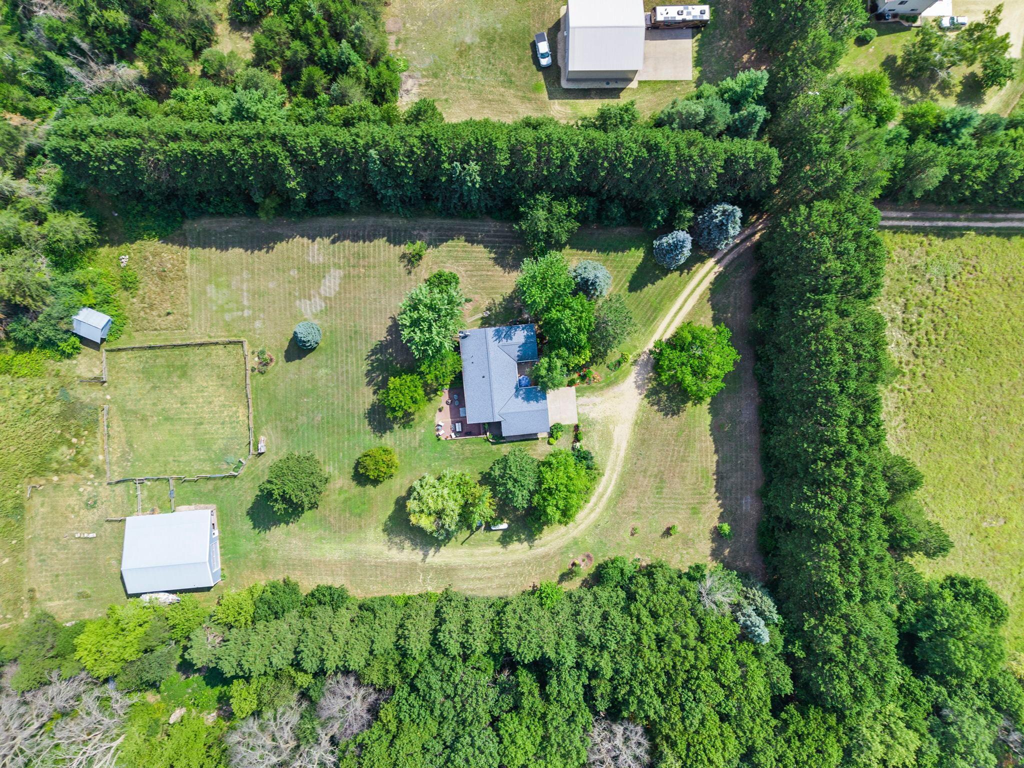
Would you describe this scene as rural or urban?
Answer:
rural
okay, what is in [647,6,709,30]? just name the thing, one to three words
camper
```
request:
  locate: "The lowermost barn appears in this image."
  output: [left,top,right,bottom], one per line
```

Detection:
[120,509,222,595]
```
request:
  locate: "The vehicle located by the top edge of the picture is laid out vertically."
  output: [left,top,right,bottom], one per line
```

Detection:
[534,31,552,68]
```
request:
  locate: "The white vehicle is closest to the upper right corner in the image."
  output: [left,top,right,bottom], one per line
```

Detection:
[940,12,971,29]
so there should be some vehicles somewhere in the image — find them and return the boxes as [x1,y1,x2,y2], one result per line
[534,31,552,68]
[647,6,709,30]
[940,12,971,29]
